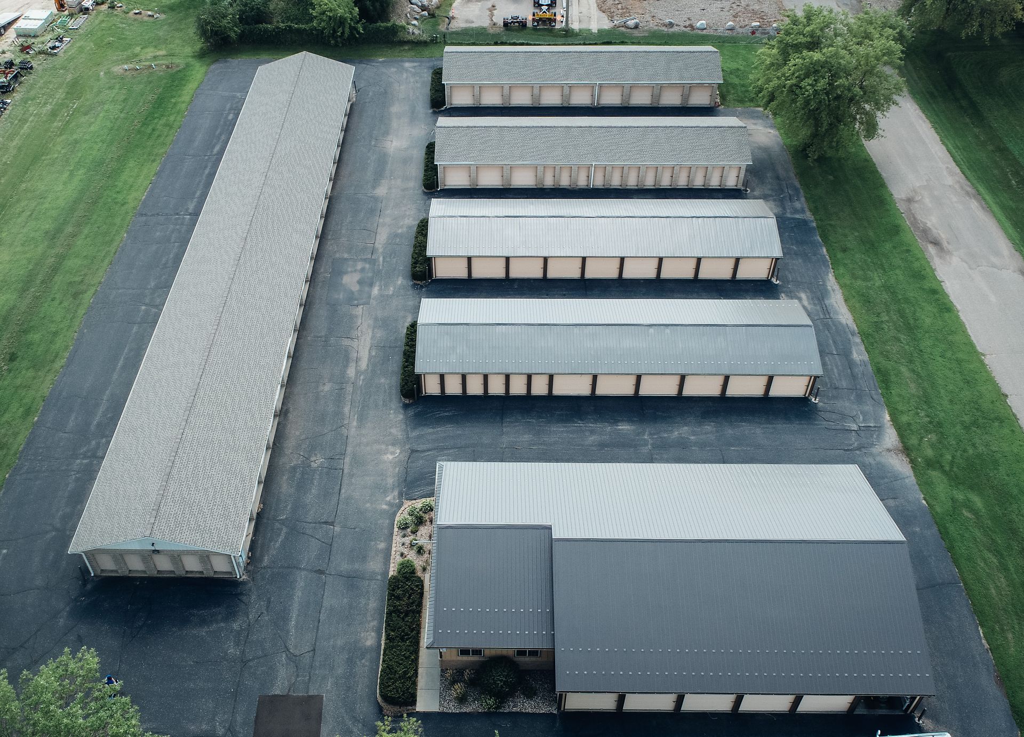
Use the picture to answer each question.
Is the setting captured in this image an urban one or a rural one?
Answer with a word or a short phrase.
urban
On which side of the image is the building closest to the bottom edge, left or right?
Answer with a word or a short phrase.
right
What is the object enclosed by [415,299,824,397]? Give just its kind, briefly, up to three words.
shed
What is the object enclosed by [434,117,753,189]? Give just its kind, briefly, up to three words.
shed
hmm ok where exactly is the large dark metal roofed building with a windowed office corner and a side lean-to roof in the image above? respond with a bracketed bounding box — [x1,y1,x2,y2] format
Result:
[412,463,933,715]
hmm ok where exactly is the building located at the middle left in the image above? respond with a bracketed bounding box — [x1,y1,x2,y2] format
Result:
[69,51,355,580]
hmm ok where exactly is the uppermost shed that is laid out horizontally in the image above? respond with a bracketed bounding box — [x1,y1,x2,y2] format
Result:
[441,46,725,107]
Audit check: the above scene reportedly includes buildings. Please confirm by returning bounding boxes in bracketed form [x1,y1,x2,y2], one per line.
[69,51,355,580]
[441,46,725,107]
[412,463,933,715]
[415,299,824,397]
[427,199,785,280]
[434,117,753,189]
